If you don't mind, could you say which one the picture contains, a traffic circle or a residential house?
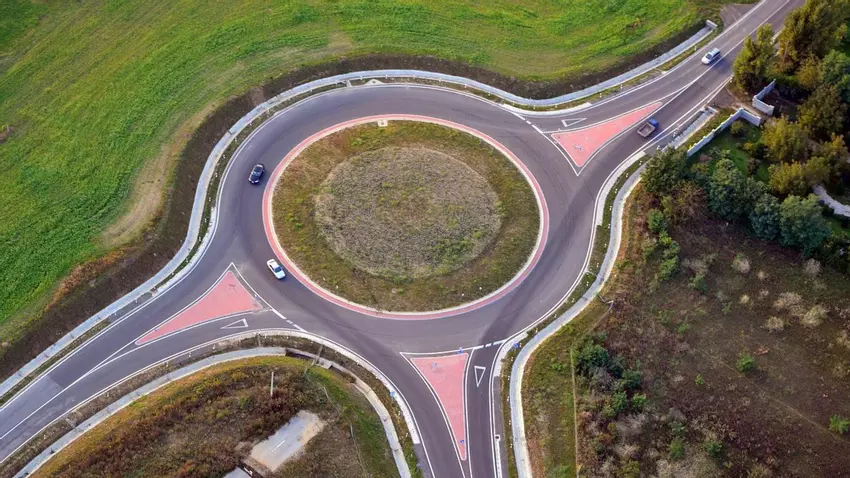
traffic circle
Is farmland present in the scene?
Yes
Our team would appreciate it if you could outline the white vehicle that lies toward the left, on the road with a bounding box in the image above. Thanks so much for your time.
[266,256,286,280]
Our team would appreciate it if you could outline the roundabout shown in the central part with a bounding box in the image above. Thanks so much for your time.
[262,115,550,320]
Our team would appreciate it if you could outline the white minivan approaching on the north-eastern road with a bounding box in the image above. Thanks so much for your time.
[704,47,722,65]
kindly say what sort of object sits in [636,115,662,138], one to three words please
truck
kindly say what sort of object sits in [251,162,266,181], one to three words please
car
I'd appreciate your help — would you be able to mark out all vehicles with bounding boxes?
[266,256,286,280]
[636,115,662,138]
[251,162,266,181]
[704,47,722,65]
